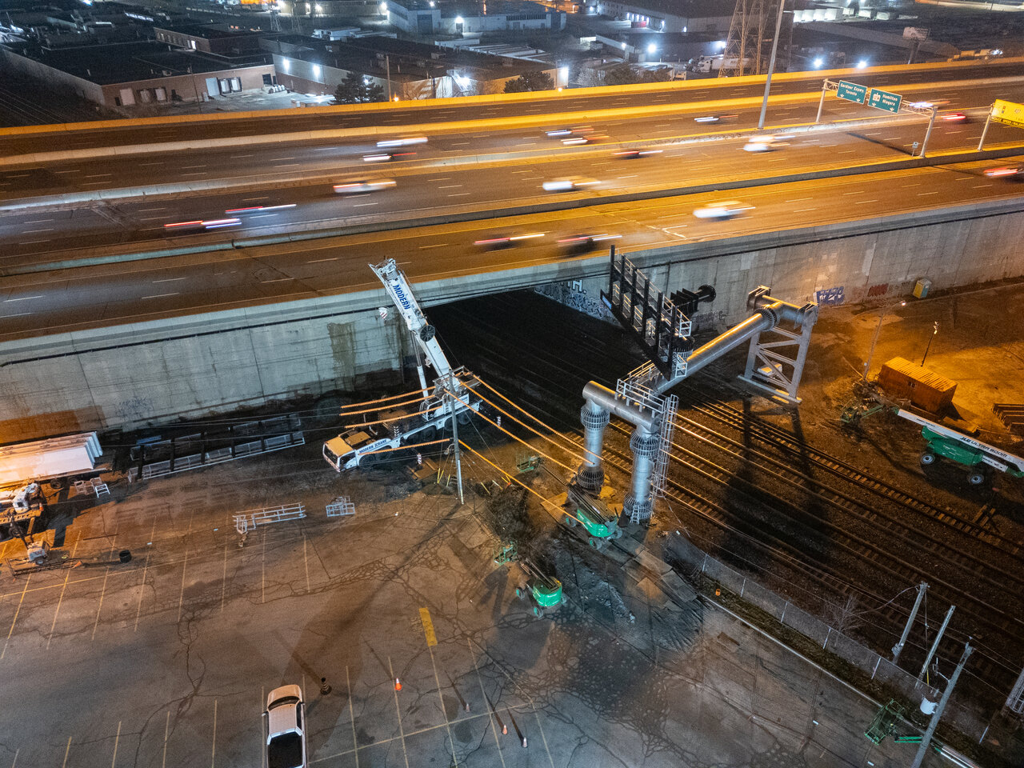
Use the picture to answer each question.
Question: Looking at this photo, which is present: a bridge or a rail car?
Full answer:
Visible in the photo is a bridge.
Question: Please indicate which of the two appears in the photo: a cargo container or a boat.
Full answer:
The one in the frame is a cargo container.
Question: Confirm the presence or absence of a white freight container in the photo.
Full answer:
No, no white freight container can be seen from above.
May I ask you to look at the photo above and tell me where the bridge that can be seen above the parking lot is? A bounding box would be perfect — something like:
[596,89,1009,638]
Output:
[421,264,665,306]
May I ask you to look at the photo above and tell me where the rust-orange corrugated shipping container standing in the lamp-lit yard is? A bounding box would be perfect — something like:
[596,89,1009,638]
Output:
[876,356,959,413]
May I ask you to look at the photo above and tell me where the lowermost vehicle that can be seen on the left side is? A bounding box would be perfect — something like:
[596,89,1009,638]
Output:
[260,678,307,768]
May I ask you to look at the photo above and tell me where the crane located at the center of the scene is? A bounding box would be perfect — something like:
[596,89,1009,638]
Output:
[321,255,501,468]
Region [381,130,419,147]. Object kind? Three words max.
vehicle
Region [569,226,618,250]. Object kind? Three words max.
car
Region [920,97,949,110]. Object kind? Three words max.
vehicle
